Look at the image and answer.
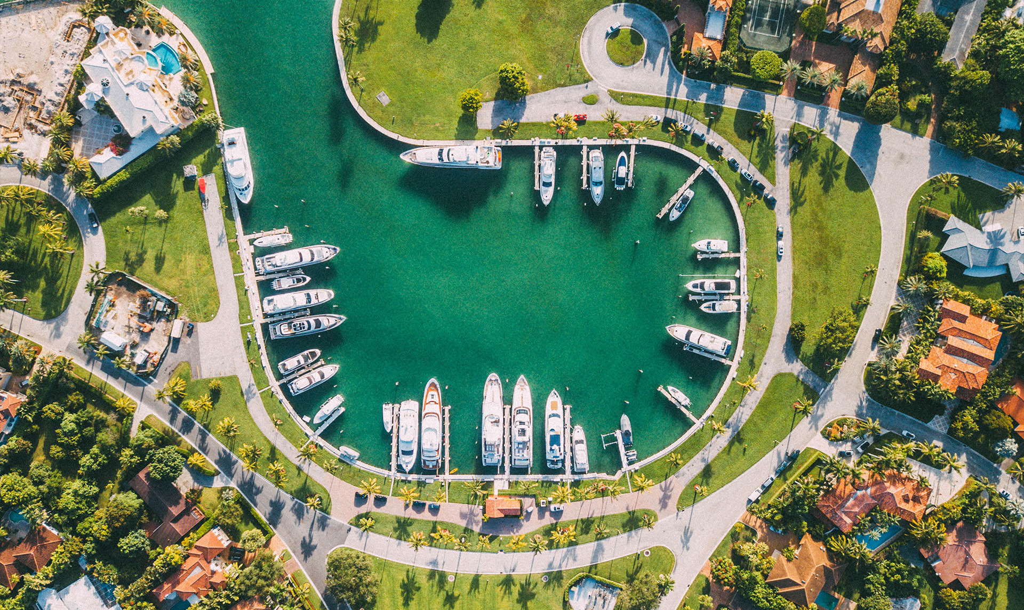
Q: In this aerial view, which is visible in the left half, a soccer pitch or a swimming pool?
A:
swimming pool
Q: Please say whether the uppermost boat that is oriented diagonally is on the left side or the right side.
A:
right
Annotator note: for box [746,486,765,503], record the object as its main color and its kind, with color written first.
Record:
white vehicle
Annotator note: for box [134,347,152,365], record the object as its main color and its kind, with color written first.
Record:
white vehicle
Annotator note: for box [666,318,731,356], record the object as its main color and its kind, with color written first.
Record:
white boat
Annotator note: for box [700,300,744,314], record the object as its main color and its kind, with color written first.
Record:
white boat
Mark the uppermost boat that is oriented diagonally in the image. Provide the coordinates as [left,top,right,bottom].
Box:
[663,188,695,220]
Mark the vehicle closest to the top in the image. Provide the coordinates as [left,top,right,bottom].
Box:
[606,23,622,35]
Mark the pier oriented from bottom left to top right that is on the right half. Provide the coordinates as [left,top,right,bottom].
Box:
[655,166,706,219]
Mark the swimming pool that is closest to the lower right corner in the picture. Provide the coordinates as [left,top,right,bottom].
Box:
[858,523,902,550]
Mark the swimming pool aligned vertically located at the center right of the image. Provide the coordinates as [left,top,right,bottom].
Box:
[993,335,1010,367]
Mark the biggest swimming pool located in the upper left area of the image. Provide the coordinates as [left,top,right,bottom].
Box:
[152,41,182,75]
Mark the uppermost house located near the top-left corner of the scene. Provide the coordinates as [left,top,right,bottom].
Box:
[78,13,181,139]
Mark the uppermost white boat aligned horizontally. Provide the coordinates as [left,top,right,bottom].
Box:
[401,143,502,171]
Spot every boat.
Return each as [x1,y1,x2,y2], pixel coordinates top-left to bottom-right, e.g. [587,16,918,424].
[587,150,610,205]
[314,388,343,423]
[286,361,339,395]
[685,273,744,294]
[421,379,445,476]
[666,318,731,356]
[621,415,634,448]
[220,126,256,213]
[258,290,335,315]
[254,241,339,274]
[508,376,532,467]
[477,373,504,465]
[572,424,589,472]
[254,233,292,247]
[271,308,345,339]
[545,388,566,469]
[384,401,393,432]
[271,275,311,291]
[613,152,629,191]
[700,300,744,314]
[340,445,359,460]
[276,349,321,375]
[663,188,695,220]
[399,399,420,471]
[539,147,556,205]
[668,386,691,407]
[692,239,729,253]
[401,143,502,171]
